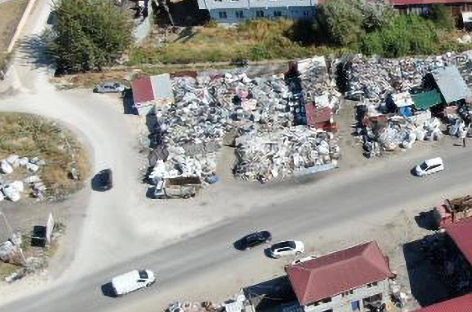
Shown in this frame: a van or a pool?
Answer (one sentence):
This aerial view contains a van.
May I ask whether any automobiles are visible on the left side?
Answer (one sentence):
Yes, an automobile shows up on the left side.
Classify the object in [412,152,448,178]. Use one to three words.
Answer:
car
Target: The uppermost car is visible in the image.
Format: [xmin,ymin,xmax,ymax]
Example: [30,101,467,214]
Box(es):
[93,81,125,96]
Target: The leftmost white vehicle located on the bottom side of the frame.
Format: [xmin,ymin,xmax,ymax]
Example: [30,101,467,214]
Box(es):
[106,267,159,297]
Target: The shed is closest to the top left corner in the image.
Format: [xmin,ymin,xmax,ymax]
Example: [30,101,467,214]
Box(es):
[133,73,175,117]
